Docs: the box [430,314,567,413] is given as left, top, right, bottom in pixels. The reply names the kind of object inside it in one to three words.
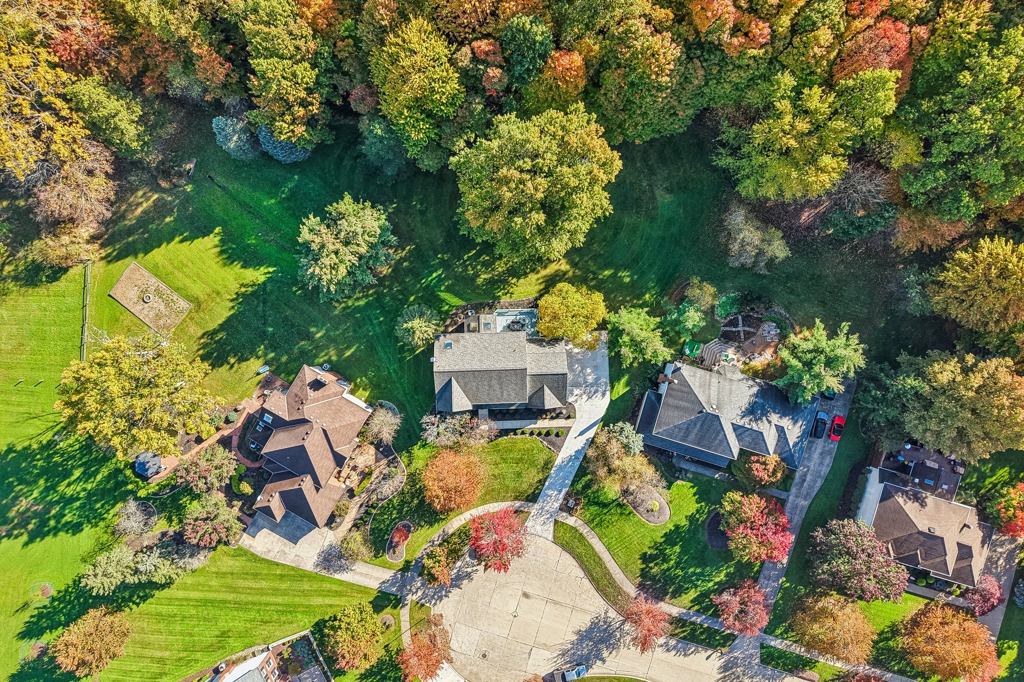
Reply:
house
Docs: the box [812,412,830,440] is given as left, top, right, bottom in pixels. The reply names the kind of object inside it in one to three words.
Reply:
car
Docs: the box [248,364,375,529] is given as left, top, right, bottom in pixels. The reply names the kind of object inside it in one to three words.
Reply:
house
